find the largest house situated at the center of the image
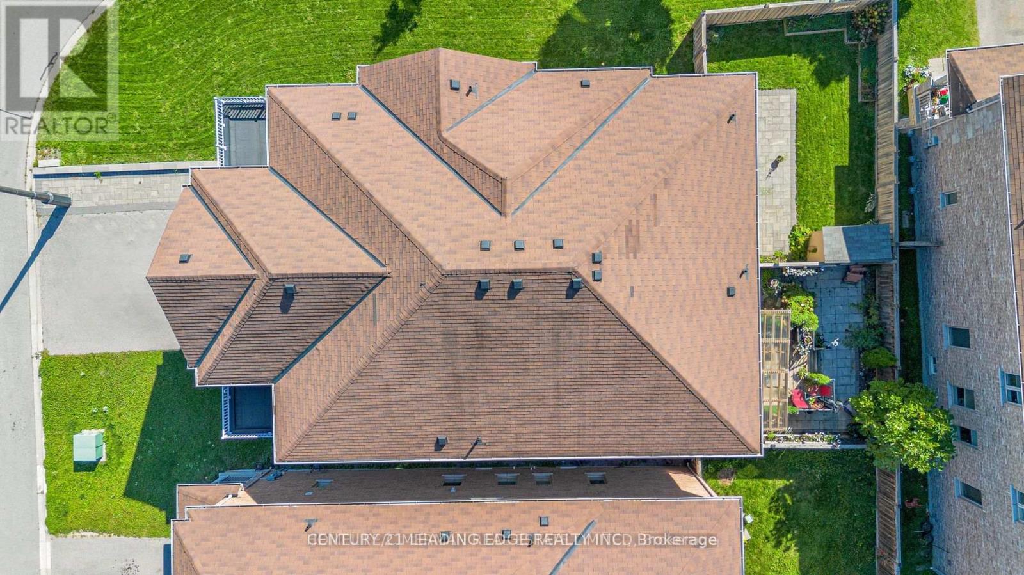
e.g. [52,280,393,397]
[145,48,763,463]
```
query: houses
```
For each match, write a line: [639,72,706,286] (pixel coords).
[907,42,1024,575]
[145,48,763,463]
[171,461,744,575]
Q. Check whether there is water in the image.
No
